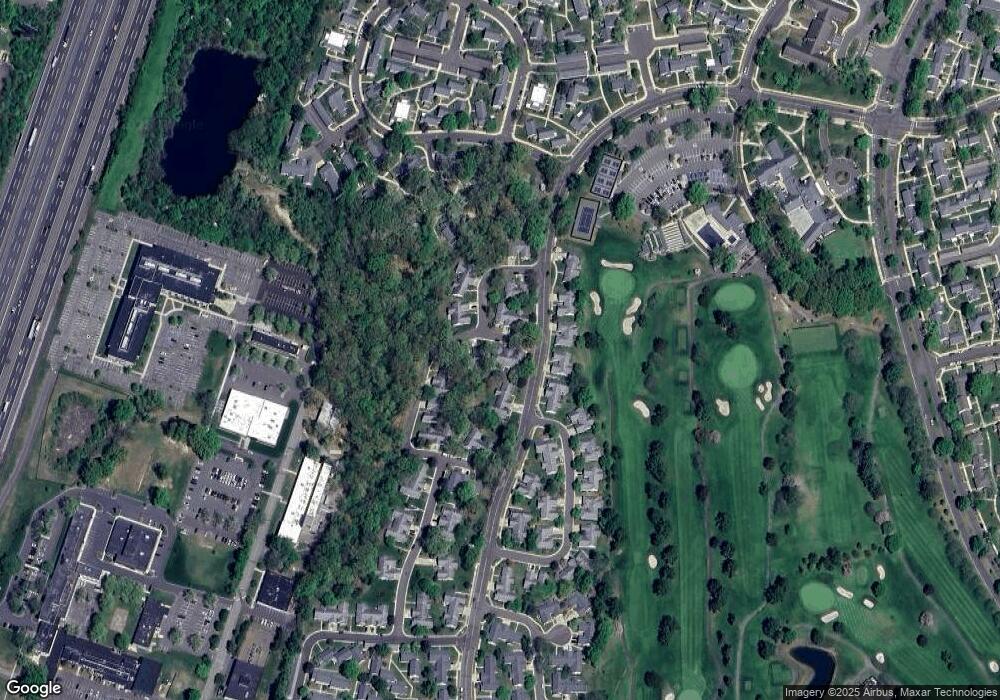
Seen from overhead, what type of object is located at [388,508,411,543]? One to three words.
house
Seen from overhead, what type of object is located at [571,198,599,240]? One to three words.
tennis court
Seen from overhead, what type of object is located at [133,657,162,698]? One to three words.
building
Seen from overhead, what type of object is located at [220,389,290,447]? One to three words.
building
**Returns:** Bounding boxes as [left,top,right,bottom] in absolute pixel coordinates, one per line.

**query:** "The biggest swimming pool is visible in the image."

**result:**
[686,208,741,251]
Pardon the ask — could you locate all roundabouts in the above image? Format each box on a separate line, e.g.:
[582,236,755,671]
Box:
[822,158,862,197]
